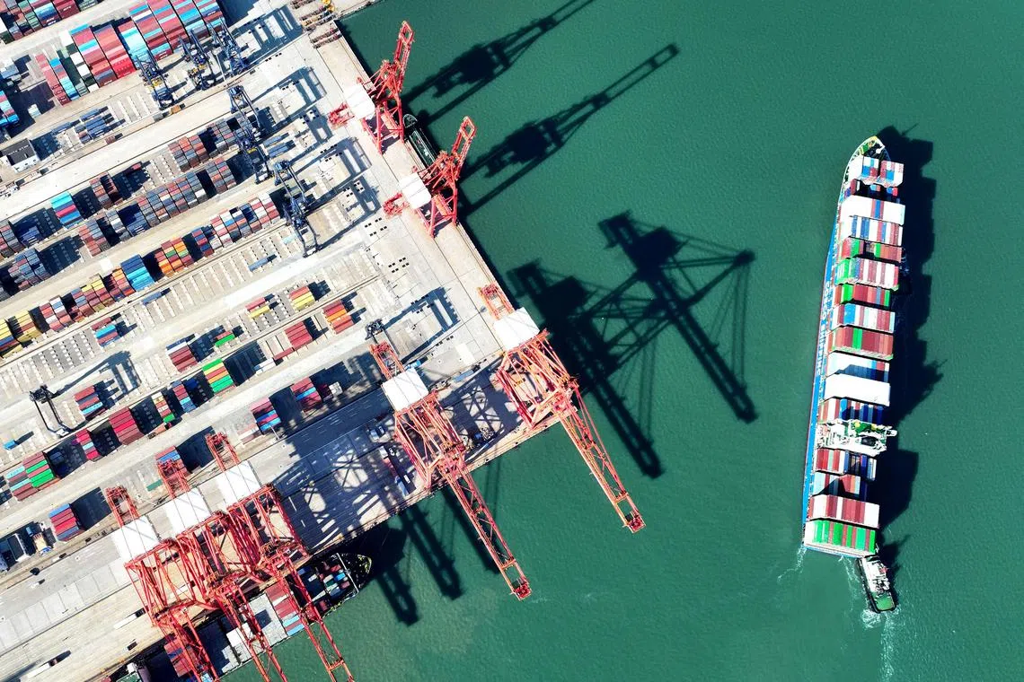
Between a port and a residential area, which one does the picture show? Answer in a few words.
port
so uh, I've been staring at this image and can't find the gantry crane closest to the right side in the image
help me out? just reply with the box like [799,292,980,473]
[476,278,648,536]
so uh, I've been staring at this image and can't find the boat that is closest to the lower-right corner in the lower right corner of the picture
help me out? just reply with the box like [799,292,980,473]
[861,556,895,614]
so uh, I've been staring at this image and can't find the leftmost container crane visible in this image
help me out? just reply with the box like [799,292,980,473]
[22,382,75,440]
